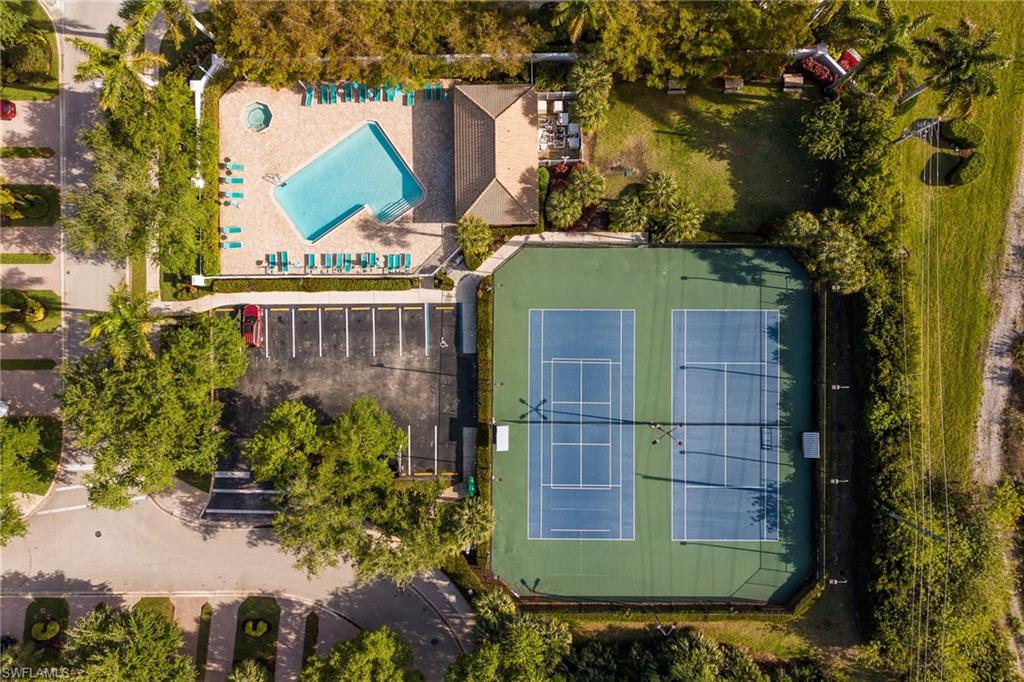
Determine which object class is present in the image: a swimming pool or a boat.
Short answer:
swimming pool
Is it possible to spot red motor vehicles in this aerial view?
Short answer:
Yes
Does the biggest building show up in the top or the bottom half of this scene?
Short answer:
top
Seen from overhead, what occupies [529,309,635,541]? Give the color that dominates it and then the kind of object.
blue tennis court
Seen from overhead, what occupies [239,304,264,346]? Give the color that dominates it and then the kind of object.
red car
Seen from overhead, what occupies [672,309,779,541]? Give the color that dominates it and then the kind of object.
blue tennis court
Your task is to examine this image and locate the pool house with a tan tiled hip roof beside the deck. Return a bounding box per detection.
[454,84,539,225]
